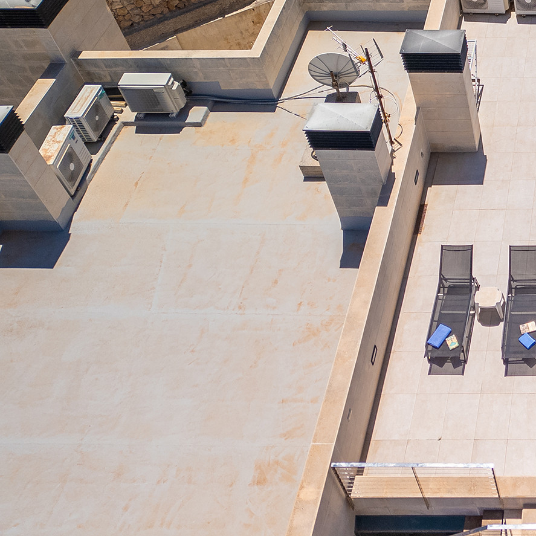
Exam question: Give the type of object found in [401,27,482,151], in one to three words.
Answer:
chimney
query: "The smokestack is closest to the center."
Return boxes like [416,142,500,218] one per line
[299,102,387,229]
